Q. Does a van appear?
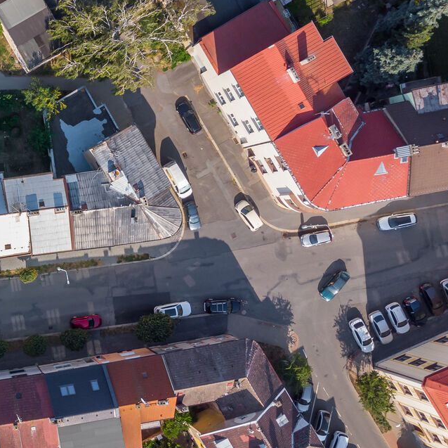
Yes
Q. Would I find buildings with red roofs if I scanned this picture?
Yes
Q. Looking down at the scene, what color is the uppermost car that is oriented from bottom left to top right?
blue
